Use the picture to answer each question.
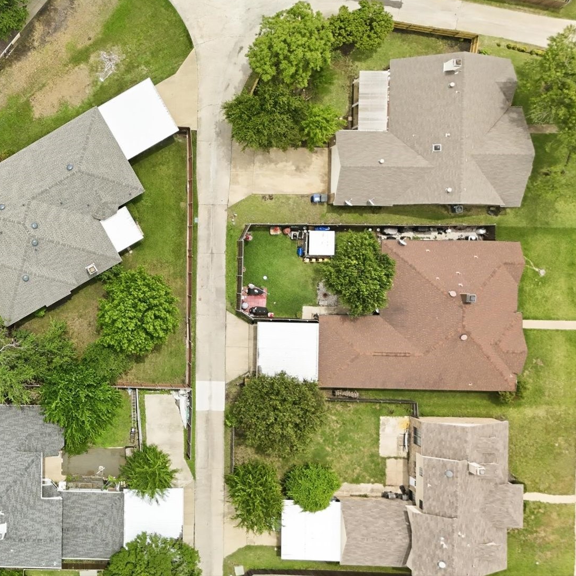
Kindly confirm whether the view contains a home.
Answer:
Yes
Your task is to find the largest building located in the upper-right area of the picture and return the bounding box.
[330,52,534,207]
